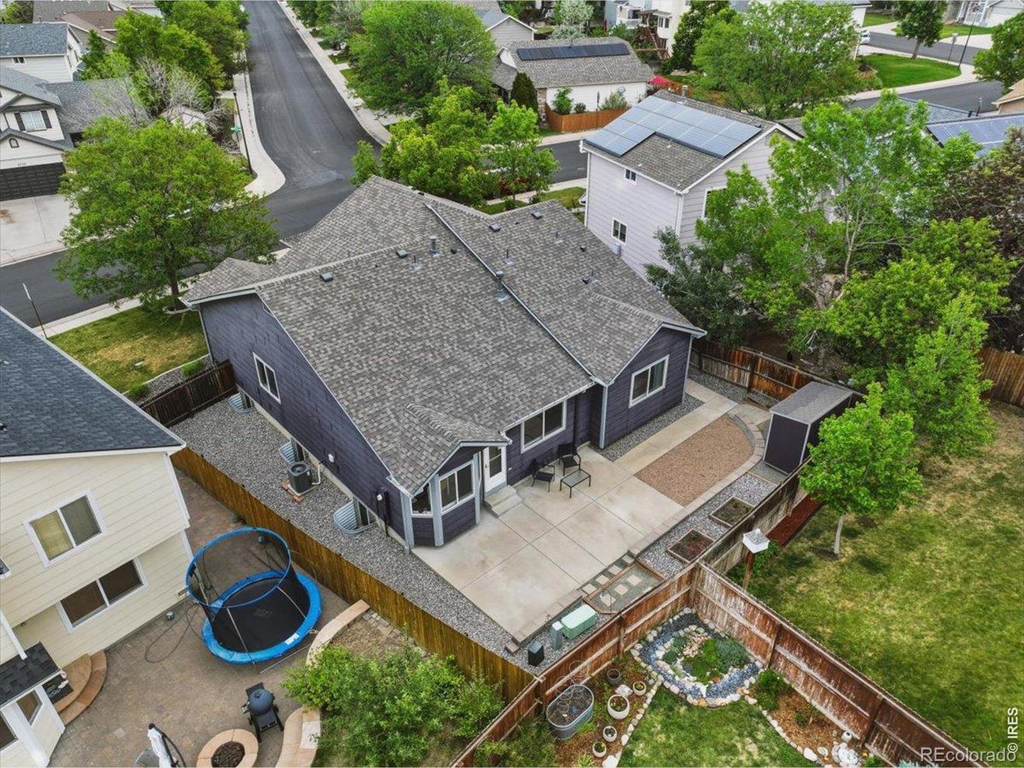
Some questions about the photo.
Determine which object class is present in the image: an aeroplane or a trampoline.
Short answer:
trampoline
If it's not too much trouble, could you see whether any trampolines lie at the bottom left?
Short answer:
Yes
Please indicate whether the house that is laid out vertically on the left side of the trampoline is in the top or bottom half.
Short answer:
bottom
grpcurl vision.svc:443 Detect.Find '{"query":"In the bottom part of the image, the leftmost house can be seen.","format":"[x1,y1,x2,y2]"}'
[0,288,201,768]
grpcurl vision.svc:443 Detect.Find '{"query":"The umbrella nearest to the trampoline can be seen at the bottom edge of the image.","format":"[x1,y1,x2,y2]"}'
[147,722,186,768]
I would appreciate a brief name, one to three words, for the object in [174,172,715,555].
house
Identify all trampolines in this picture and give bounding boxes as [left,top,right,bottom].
[185,529,325,676]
